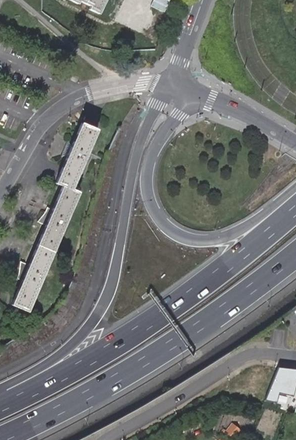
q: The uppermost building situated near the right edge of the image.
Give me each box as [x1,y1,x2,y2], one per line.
[266,365,296,402]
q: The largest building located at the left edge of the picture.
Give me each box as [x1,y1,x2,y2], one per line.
[12,184,82,312]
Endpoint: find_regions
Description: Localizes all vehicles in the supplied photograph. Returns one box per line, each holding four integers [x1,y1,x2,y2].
[162,294,174,304]
[105,332,116,341]
[44,379,56,388]
[24,98,31,110]
[113,338,125,347]
[232,242,242,251]
[26,410,38,418]
[96,373,107,382]
[1,111,8,126]
[198,287,212,298]
[228,306,240,318]
[46,420,56,428]
[188,14,194,25]
[172,297,186,308]
[228,100,240,107]
[112,384,122,392]
[6,89,14,100]
[176,393,186,401]
[272,263,283,272]
[13,92,20,104]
